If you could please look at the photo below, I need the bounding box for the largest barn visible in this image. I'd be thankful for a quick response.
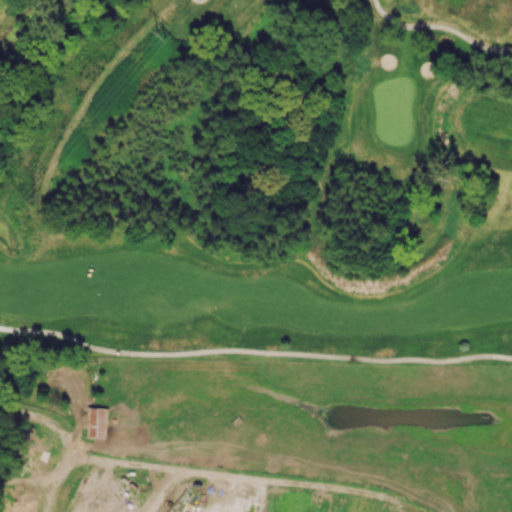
[87,408,108,442]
